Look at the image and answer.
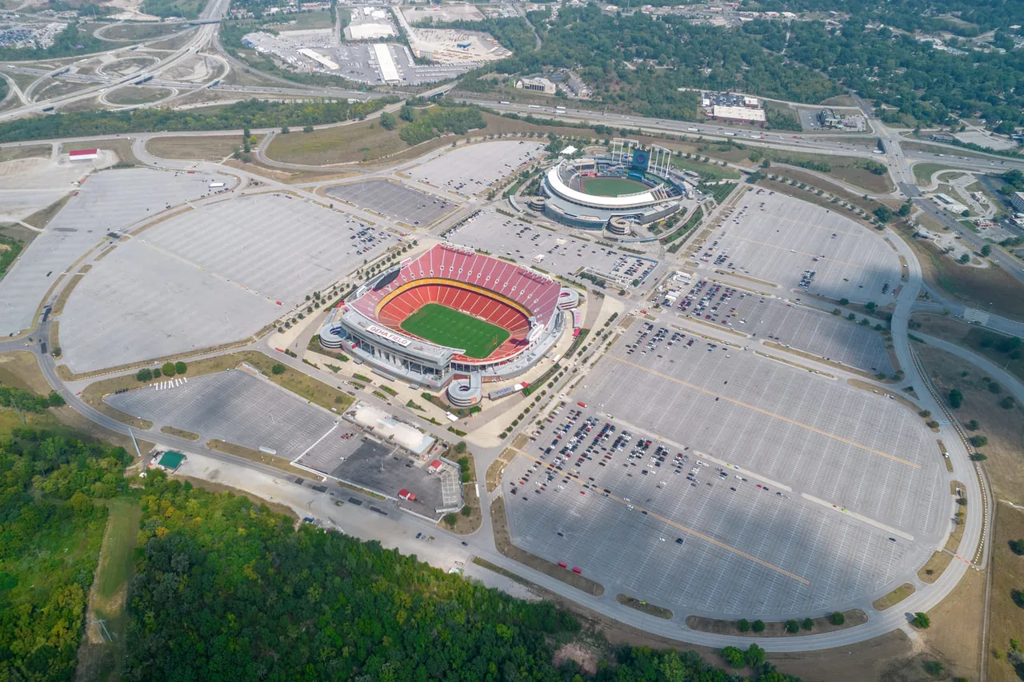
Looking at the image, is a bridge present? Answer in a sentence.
Yes, there is a bridge in the image.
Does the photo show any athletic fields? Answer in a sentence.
Yes, there's an athletic field down there.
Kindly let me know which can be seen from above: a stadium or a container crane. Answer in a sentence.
The image shows a stadium.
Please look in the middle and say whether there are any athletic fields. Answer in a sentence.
Yes, there is an athletic field in the middle.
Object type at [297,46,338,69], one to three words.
building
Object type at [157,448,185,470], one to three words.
shed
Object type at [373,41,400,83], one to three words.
building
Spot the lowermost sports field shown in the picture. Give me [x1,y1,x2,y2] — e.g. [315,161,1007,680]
[400,303,511,358]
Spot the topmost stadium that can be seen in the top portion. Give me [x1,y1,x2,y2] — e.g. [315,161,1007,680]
[527,145,698,230]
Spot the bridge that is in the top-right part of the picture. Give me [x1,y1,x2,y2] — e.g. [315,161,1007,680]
[870,120,910,170]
